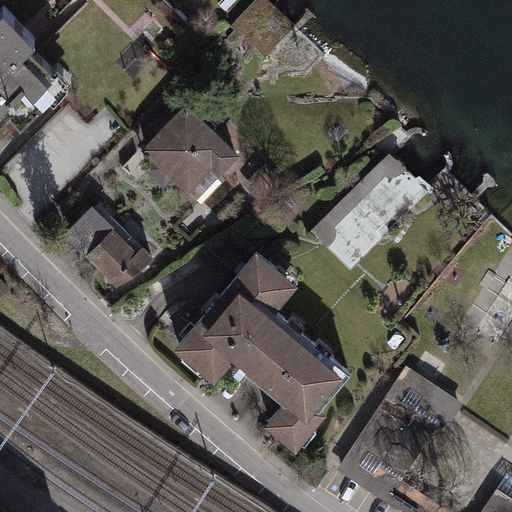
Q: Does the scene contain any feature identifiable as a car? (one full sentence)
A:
Yes, there is a car in the image.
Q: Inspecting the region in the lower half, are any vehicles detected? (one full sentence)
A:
Yes, a vehicle shows up in the lower half.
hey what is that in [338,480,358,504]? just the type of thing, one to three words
car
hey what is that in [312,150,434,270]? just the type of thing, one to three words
house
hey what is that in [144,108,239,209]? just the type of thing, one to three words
house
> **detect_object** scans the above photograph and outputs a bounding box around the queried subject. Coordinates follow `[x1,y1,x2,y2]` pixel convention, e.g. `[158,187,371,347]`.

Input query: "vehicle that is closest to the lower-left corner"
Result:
[170,412,190,434]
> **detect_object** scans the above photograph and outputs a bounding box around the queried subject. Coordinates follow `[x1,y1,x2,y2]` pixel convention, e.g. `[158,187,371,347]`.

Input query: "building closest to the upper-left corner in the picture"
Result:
[0,4,72,126]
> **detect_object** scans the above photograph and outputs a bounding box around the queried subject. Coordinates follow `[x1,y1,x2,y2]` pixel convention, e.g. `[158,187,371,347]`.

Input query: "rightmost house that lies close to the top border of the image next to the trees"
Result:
[232,0,294,56]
